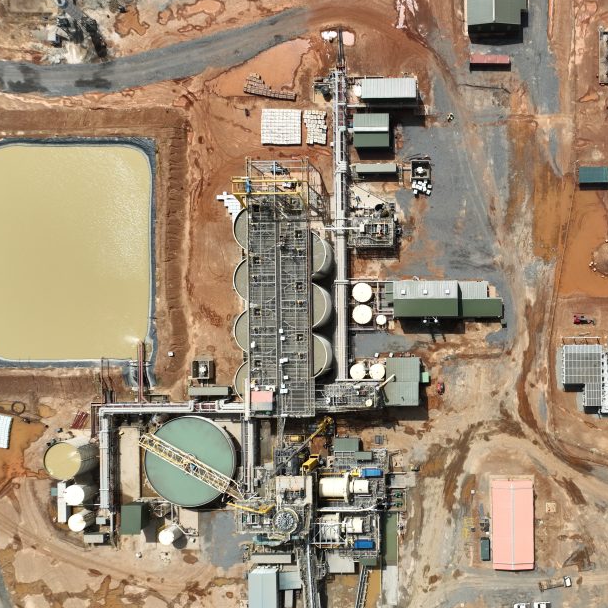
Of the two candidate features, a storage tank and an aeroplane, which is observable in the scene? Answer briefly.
storage tank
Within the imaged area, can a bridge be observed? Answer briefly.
Yes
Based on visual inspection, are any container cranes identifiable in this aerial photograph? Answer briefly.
Yes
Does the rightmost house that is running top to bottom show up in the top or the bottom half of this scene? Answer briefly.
bottom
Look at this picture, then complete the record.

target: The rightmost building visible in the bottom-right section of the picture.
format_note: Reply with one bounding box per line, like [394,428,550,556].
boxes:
[491,479,534,571]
